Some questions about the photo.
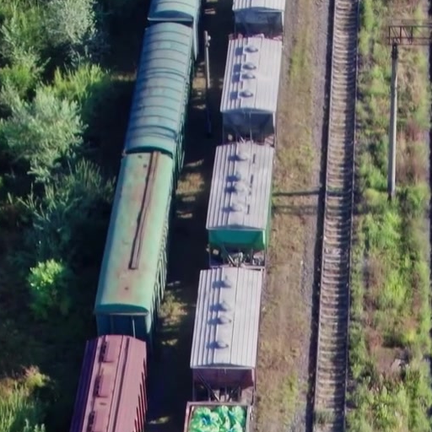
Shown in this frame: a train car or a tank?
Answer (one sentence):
Of the two, only a train car appears.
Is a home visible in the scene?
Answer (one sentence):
No, no home is visible in the view.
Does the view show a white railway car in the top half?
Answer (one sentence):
Yes, there is a white railway car in the top half.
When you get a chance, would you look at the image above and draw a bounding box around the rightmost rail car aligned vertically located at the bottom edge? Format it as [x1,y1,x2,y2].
[190,267,266,425]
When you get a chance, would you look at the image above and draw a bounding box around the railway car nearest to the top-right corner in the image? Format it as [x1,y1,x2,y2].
[231,0,291,55]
